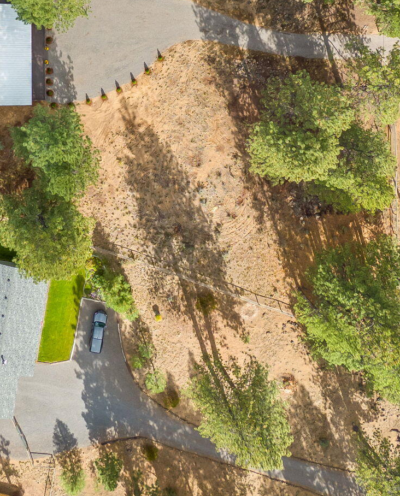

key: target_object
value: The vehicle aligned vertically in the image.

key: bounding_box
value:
[90,309,108,353]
